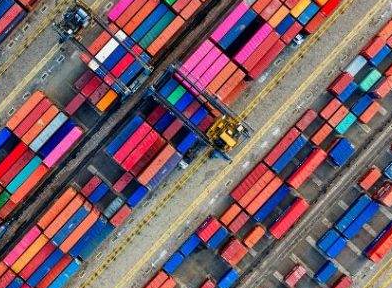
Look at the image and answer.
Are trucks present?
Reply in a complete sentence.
Yes, there's a truck here.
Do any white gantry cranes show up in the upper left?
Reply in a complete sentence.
No, I see no white gantry crane in the upper left.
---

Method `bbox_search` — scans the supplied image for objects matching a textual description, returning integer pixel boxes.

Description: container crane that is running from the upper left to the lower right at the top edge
[54,0,154,93]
